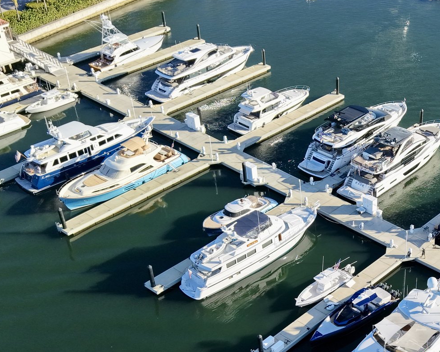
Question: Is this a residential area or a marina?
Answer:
marina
